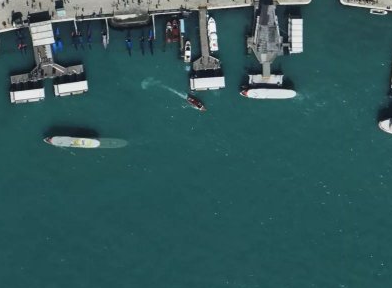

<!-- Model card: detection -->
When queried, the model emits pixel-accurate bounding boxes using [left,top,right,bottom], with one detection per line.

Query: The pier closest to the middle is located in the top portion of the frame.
[190,77,225,91]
